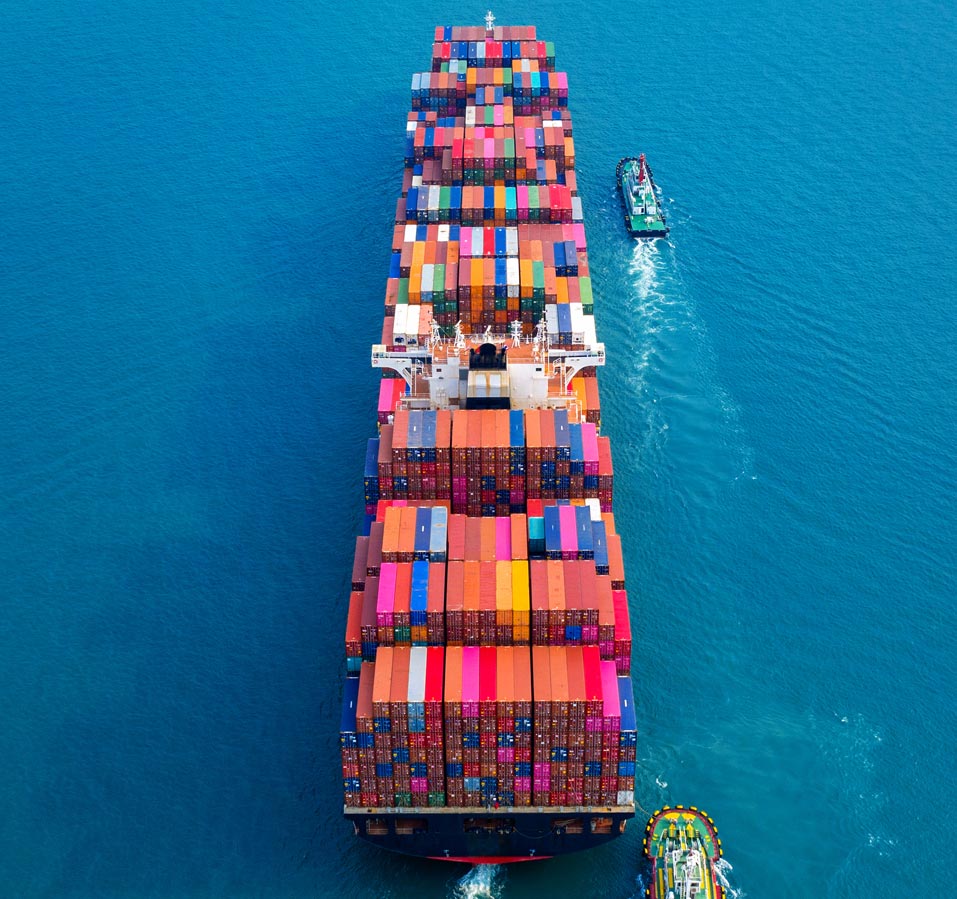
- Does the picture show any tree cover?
No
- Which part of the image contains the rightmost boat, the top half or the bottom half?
bottom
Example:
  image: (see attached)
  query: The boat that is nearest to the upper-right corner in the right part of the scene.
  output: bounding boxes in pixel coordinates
[616,152,671,240]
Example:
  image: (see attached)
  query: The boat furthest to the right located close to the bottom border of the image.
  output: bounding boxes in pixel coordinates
[645,802,724,899]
